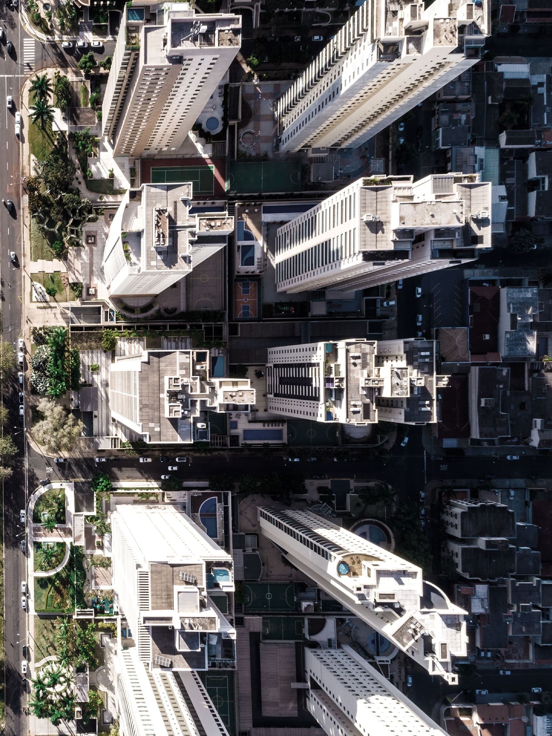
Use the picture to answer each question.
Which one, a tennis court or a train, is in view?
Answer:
tennis court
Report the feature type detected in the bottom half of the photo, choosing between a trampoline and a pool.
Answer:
pool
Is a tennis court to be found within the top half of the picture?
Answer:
Yes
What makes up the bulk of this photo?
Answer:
buildings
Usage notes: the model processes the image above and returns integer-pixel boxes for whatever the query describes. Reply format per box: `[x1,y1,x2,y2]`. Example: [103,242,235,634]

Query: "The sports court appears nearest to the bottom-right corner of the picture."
[262,618,304,640]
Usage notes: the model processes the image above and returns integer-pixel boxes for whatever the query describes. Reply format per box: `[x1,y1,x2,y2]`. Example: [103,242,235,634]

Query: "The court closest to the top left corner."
[142,158,226,201]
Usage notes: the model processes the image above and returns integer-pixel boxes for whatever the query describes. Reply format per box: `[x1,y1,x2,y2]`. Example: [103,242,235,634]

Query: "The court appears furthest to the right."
[287,420,339,446]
